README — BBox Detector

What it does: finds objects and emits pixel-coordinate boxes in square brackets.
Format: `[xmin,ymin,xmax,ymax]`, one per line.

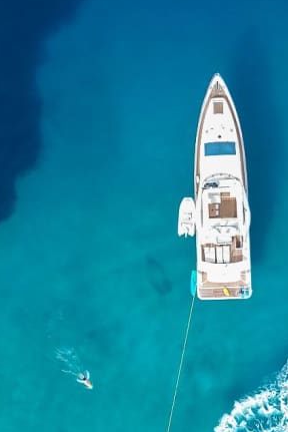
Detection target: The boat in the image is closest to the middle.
[179,198,194,237]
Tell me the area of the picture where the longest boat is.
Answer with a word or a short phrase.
right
